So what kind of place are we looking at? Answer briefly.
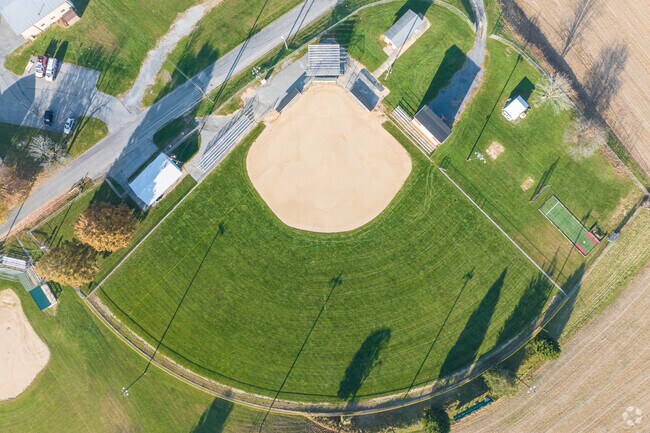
sports ground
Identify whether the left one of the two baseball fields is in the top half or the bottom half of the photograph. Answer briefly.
bottom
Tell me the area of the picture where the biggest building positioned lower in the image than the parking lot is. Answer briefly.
left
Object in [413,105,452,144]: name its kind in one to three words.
building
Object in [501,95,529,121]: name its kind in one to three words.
shed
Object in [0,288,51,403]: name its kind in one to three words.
baseball field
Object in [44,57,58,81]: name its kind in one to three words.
vehicle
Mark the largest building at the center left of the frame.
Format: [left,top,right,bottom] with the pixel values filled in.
[129,152,184,205]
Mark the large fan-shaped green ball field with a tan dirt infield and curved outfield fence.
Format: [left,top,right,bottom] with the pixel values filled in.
[91,80,566,416]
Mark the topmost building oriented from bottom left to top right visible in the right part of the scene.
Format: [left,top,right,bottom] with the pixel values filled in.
[385,8,423,49]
